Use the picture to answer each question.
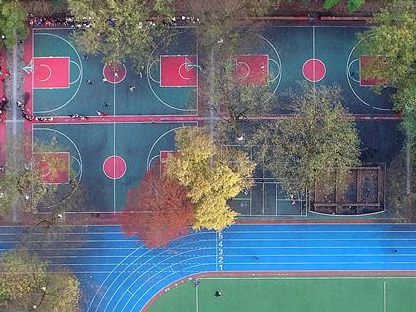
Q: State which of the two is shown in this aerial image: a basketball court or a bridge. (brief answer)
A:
basketball court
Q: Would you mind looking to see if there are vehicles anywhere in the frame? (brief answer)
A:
No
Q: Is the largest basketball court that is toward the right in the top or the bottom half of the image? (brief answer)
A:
top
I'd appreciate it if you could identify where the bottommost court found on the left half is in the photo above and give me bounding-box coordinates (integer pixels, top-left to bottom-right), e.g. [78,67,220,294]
[32,122,198,214]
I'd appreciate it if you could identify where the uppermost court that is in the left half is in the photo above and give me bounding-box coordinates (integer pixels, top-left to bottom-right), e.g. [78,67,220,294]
[32,27,198,117]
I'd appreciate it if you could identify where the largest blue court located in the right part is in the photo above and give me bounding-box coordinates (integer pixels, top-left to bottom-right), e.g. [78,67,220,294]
[233,25,397,116]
